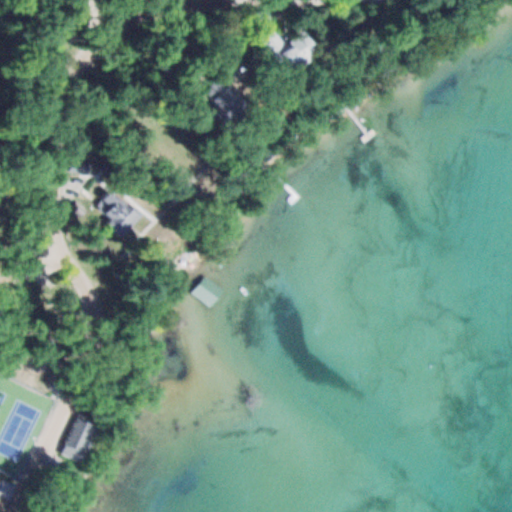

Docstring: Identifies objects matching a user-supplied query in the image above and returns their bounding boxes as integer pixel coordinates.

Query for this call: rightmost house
[286,34,315,63]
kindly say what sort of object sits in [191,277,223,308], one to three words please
building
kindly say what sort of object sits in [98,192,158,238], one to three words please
house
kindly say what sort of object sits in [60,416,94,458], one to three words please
house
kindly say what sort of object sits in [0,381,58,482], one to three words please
tennis court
